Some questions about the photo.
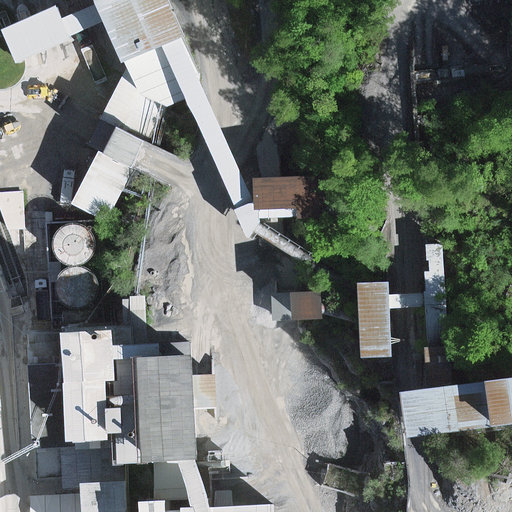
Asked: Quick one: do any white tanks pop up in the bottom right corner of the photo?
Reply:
No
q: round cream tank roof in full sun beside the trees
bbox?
[52,222,96,266]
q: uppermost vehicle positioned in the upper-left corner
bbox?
[76,32,106,84]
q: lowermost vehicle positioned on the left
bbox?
[60,169,76,205]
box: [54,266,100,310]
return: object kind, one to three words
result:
storage tank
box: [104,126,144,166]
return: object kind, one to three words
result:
shed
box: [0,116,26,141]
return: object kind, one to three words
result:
work vehicle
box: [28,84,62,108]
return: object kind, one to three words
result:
work vehicle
